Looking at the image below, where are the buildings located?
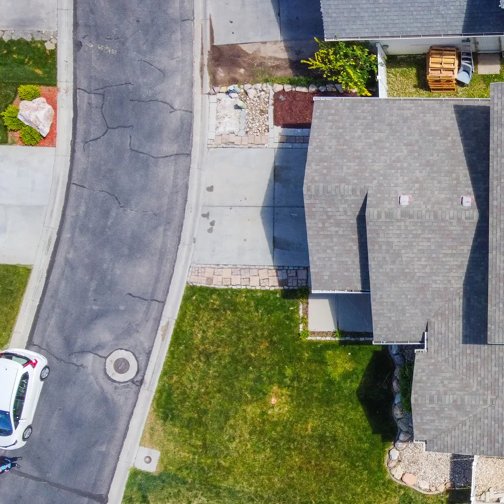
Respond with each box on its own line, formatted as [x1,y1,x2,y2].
[301,83,504,459]
[319,0,504,60]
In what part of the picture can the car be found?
bottom left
